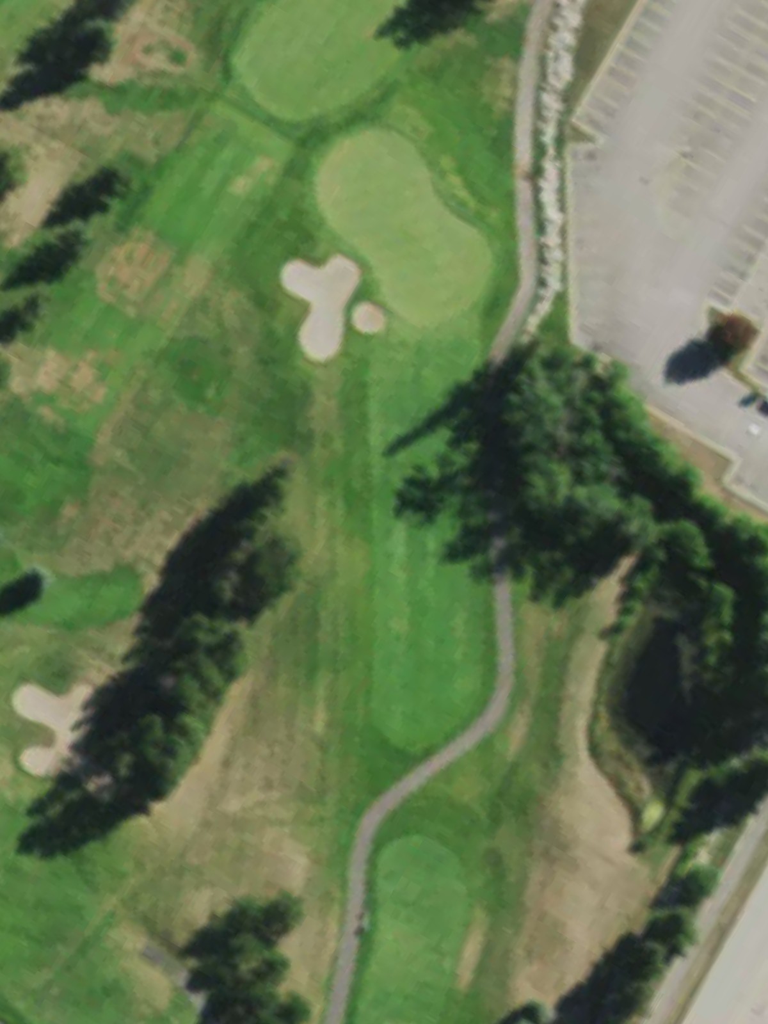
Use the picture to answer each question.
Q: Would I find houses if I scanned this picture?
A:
No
